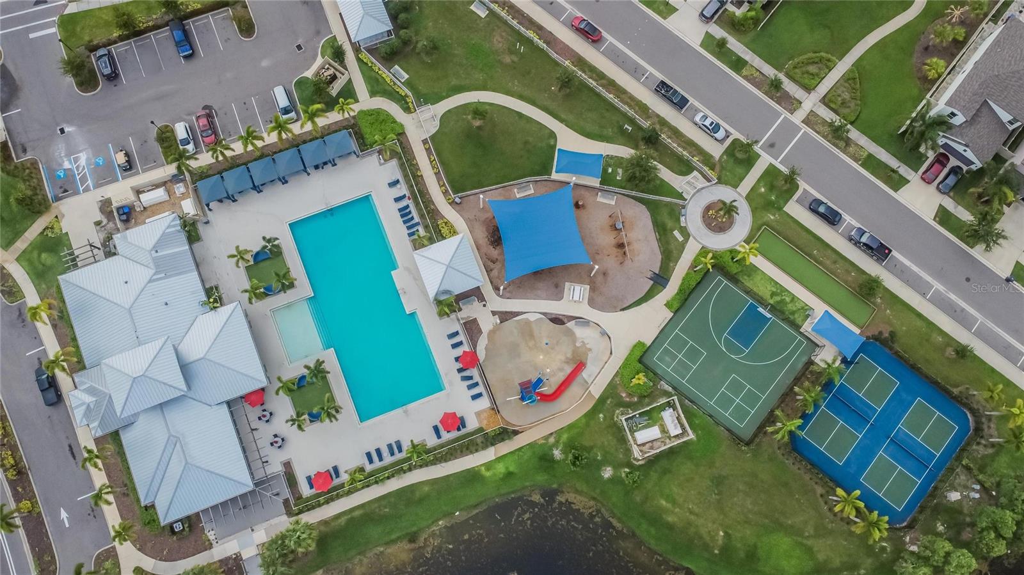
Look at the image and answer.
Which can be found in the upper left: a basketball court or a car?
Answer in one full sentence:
You can see a car in the upper left.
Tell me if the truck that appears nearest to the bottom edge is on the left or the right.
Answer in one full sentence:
You can find the truck that appears nearest to the bottom edge on the left side of the picture.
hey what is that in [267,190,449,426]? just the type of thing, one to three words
swimming pool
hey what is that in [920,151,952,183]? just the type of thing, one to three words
car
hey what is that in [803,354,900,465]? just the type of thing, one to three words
sports court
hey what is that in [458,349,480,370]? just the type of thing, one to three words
umbrella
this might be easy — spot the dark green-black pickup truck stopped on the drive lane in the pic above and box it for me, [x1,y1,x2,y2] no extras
[31,365,63,411]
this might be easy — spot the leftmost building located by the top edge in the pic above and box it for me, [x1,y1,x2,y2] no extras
[338,0,396,50]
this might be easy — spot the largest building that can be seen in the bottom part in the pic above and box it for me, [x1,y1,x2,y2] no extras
[57,212,270,526]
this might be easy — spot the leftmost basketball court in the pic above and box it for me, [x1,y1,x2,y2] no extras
[641,267,812,444]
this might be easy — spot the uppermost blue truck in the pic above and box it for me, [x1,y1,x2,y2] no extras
[167,17,193,59]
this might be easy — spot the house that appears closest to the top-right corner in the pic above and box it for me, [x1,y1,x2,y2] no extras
[927,7,1024,168]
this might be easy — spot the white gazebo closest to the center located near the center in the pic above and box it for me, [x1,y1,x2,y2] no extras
[413,233,484,303]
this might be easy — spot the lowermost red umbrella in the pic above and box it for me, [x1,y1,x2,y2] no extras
[311,470,334,493]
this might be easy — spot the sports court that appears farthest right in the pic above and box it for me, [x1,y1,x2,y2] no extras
[861,398,958,511]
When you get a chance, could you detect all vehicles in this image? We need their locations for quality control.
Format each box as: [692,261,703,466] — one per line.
[569,15,604,43]
[113,153,132,176]
[652,77,692,111]
[698,0,726,23]
[167,17,193,59]
[196,109,220,147]
[94,47,119,82]
[31,365,63,411]
[271,83,299,122]
[920,151,952,183]
[935,164,967,195]
[693,111,727,141]
[807,198,844,227]
[848,226,895,263]
[174,120,197,155]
